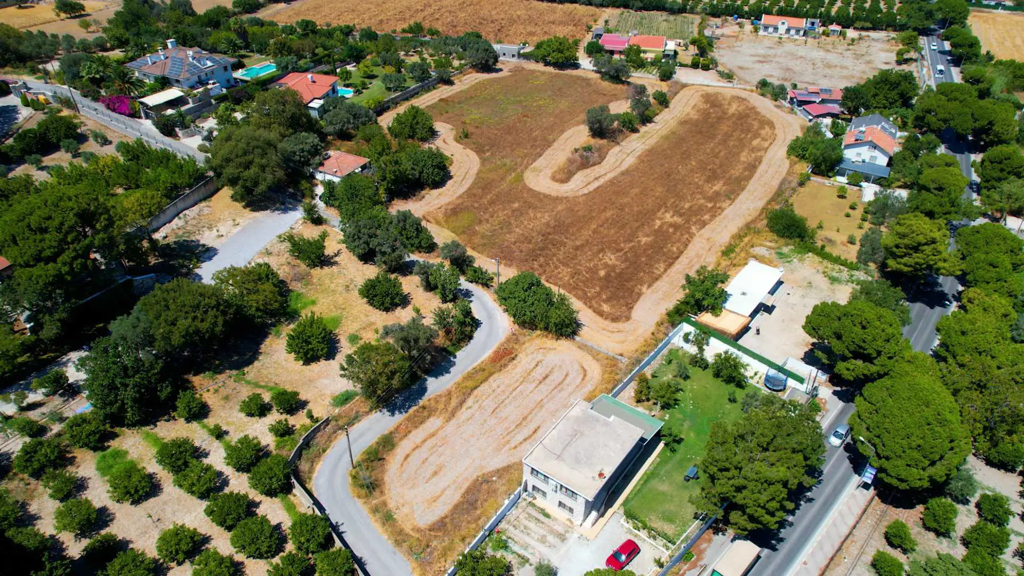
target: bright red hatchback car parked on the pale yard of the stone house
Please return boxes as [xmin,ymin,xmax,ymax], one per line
[607,534,644,569]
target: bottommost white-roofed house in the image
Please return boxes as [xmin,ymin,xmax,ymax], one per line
[518,393,665,546]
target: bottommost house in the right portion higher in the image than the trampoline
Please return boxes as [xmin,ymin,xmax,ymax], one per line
[708,255,775,335]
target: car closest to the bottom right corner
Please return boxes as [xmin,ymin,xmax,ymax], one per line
[828,420,854,447]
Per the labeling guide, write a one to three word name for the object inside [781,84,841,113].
house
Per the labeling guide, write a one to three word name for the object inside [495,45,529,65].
shed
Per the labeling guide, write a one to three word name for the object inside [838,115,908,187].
house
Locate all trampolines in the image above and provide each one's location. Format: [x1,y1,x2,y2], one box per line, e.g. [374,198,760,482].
[763,368,789,396]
